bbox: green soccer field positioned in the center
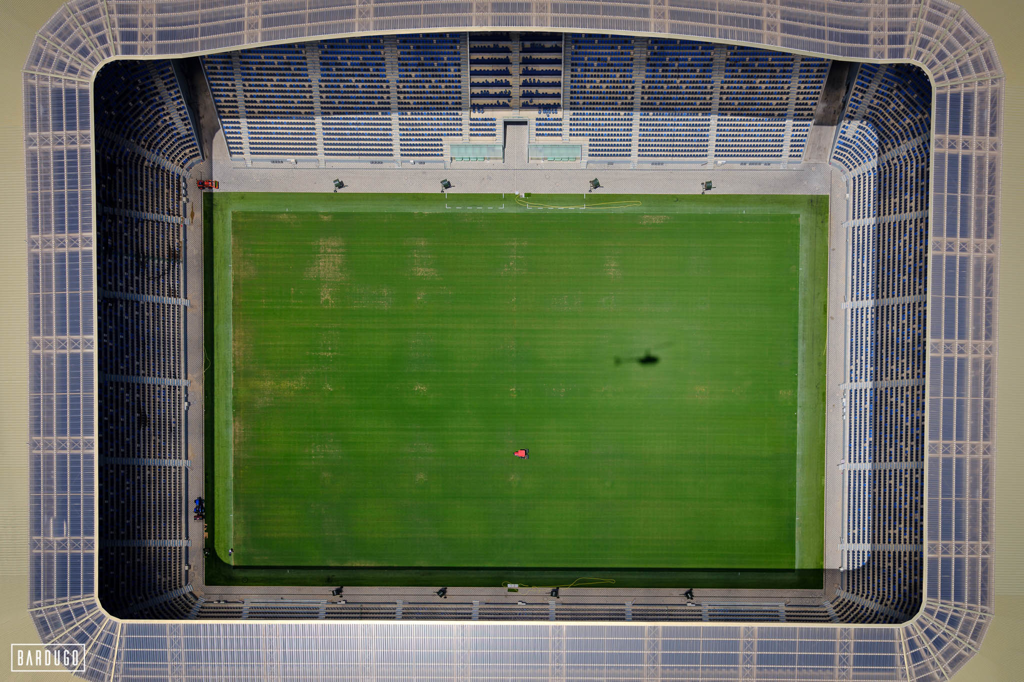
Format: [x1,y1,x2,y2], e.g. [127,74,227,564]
[204,193,828,589]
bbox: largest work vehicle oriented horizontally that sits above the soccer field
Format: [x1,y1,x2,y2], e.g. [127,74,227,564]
[192,176,219,190]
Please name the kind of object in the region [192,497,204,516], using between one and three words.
vehicle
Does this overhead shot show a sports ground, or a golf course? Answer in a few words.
sports ground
